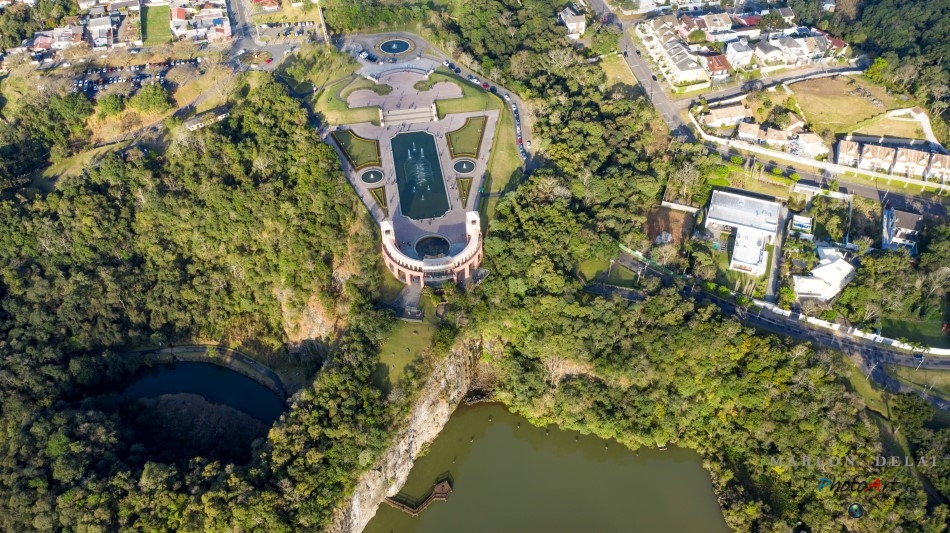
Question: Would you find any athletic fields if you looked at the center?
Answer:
No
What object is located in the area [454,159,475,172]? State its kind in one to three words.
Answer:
fountain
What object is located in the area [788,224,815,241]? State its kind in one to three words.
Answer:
shed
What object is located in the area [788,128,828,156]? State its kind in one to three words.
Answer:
house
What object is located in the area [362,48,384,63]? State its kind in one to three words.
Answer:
vehicle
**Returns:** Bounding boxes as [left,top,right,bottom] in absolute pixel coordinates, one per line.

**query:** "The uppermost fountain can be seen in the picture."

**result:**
[375,35,417,57]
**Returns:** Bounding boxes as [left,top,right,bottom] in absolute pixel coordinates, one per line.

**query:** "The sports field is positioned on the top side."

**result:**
[142,4,173,45]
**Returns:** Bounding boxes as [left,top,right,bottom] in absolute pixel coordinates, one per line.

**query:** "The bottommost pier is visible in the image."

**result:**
[385,479,452,520]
